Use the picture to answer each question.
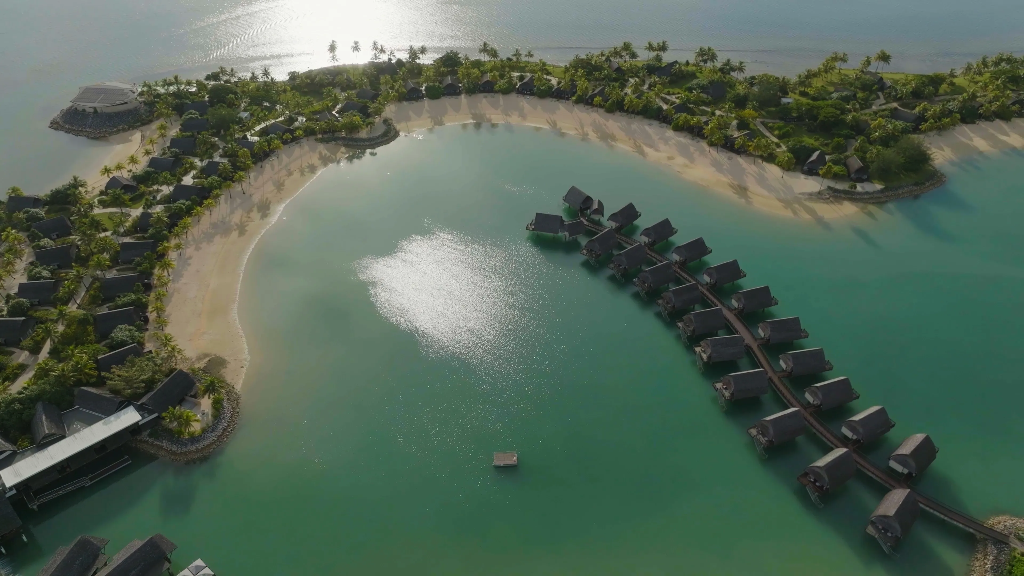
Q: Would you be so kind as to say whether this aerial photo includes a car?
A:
No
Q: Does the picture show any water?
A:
Yes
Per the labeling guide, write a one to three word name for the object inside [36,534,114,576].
building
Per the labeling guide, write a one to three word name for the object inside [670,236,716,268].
house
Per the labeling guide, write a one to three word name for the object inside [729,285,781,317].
house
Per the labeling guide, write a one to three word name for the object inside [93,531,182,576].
building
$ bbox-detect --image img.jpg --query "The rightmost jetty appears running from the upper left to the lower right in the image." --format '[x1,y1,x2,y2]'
[578,211,1013,544]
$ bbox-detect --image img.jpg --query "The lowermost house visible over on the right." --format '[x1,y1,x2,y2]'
[861,487,921,555]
